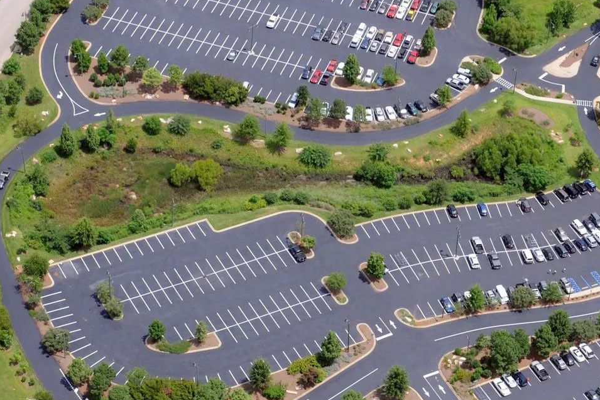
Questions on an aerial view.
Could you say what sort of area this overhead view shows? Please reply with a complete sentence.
The area seen from above is a parking lot.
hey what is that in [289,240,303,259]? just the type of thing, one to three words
vehicle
